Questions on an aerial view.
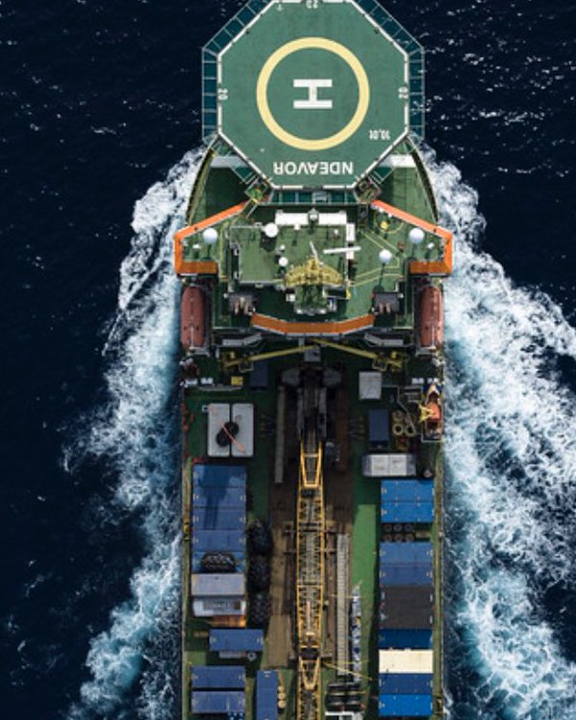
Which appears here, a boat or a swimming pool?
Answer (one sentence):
I can see a boat in this picture.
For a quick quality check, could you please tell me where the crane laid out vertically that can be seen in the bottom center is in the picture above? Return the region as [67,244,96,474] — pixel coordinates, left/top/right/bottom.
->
[282,368,341,720]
